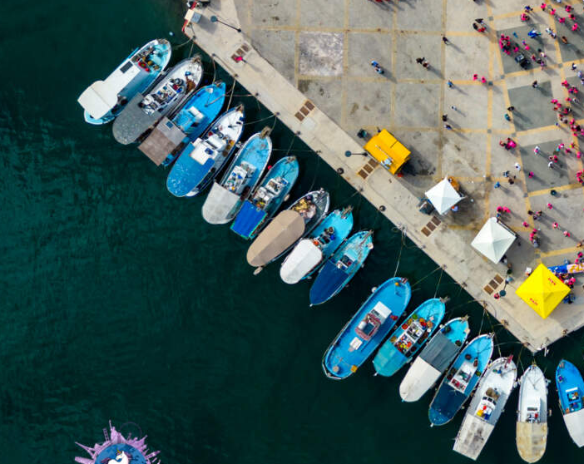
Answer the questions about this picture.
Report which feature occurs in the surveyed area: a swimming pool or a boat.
boat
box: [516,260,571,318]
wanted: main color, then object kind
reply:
yellow gazebo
